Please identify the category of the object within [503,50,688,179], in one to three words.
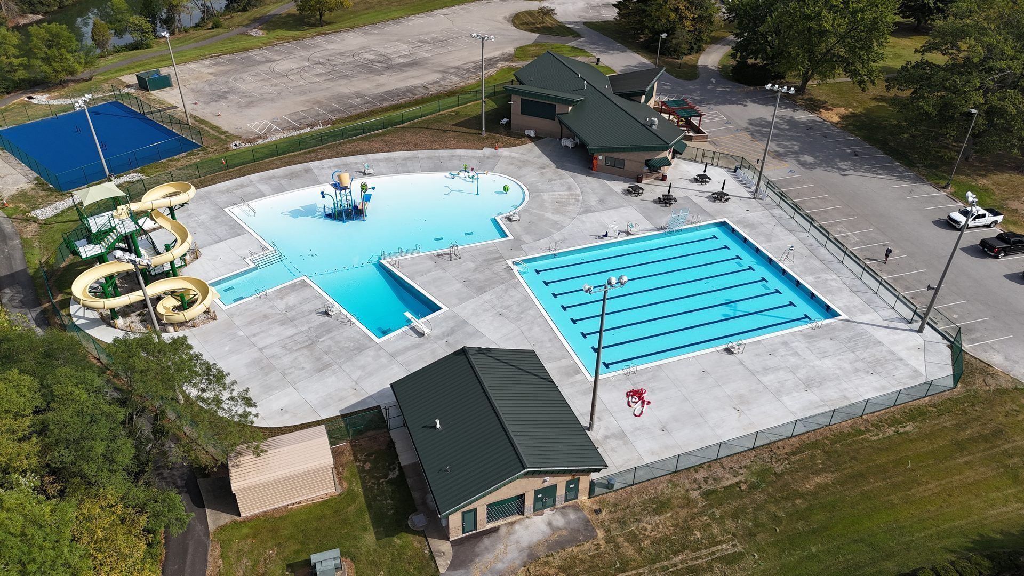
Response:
building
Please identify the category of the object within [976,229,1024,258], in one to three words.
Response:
truck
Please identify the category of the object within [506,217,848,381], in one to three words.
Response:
swimming pool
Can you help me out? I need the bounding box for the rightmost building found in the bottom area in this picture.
[390,346,608,542]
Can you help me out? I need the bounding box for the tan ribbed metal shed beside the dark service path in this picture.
[226,424,342,521]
